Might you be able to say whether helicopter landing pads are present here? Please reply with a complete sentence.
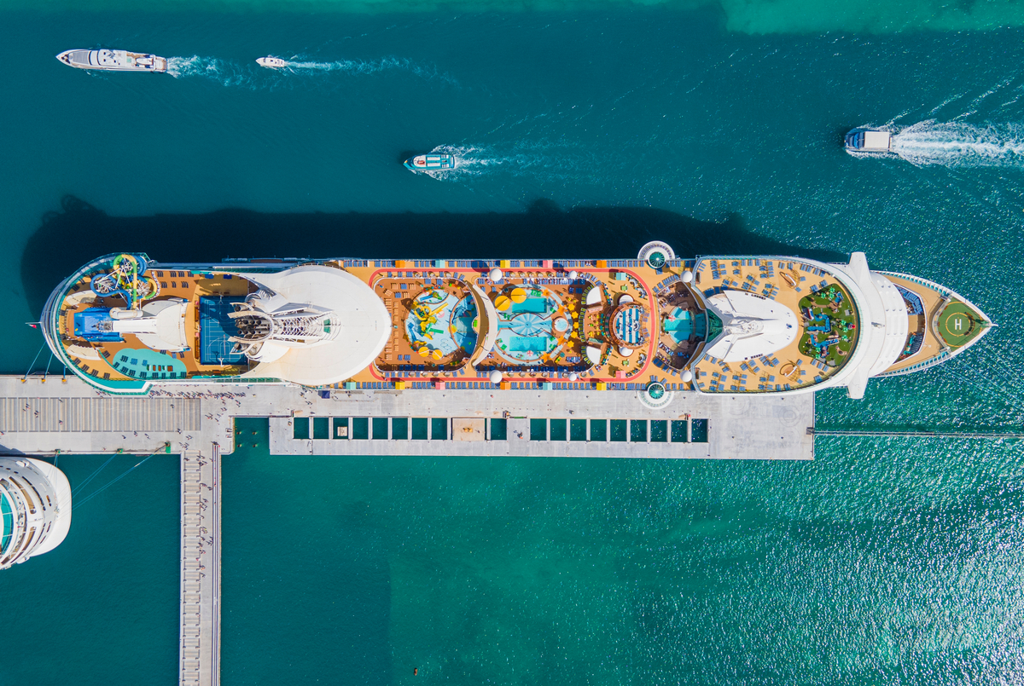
Yes, you can see a helicopter landing pad in this photo.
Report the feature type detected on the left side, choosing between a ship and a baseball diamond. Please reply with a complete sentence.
Looking on the left side, you will find a ship.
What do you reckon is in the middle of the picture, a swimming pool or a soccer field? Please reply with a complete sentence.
It is a swimming pool that can be seen in the middle of the picture.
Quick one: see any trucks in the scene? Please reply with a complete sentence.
No, the picture doesn't show any truck.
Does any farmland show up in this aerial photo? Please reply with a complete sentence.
No, the scene doesn't show any farmland.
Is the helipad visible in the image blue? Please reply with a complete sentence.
No, the color of the helipad is green.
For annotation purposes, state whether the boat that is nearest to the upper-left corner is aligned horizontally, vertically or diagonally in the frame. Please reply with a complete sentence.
The boat that is nearest to the upper-left corner runs horizontally in the image.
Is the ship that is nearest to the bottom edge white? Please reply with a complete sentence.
Yes, white is the color of the ship that is nearest to the bottom edge.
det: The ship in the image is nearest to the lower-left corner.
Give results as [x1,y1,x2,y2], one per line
[0,458,71,564]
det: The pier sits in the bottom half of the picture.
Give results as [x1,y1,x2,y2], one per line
[0,375,814,461]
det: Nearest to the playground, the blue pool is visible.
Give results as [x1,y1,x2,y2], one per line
[451,294,477,353]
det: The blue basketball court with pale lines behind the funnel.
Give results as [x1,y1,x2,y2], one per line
[195,295,249,365]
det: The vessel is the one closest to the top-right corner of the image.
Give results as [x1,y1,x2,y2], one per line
[843,128,894,151]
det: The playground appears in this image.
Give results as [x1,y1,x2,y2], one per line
[405,287,461,359]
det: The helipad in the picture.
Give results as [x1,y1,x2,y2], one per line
[926,292,987,357]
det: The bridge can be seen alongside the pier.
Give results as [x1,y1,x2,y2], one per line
[178,447,222,686]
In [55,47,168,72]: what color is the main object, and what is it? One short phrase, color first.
white boat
